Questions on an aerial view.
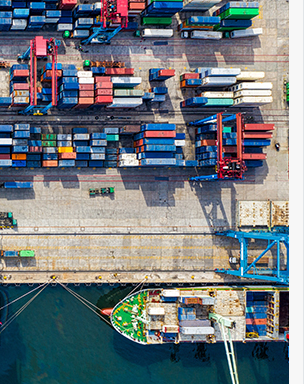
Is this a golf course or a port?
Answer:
port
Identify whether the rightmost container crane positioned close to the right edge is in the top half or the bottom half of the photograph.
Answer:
bottom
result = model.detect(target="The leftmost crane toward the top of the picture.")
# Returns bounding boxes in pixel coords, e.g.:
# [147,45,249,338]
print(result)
[17,34,58,118]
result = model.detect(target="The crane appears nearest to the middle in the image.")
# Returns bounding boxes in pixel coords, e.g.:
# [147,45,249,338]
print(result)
[187,113,244,185]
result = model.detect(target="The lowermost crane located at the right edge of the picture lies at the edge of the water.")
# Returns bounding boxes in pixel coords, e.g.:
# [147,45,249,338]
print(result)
[217,220,304,317]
